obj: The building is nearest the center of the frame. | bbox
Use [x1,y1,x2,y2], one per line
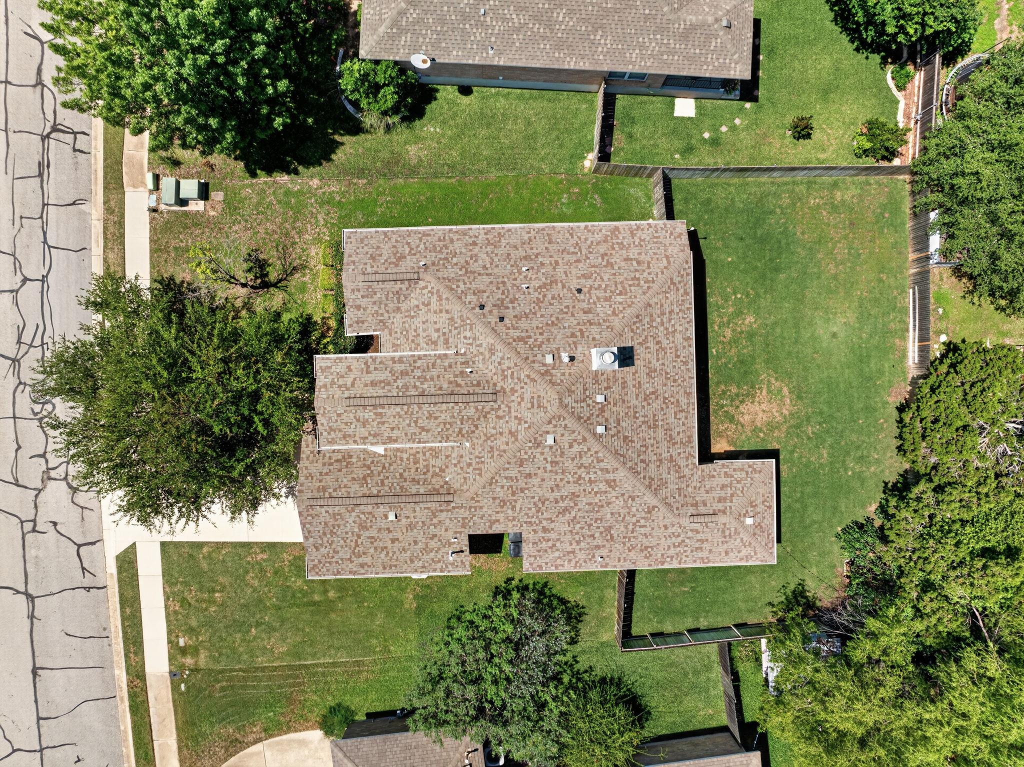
[296,218,779,581]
